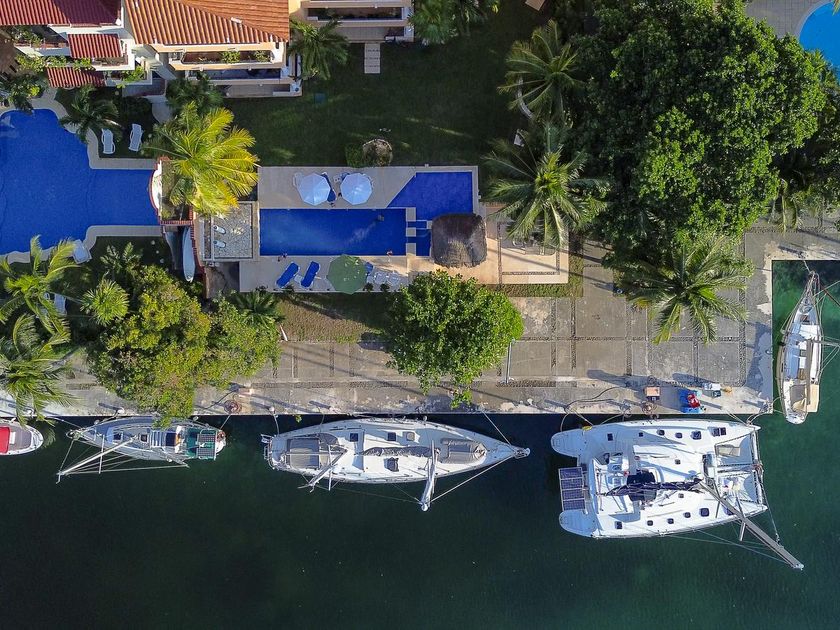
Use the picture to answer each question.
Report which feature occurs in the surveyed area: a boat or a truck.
boat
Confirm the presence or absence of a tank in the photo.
No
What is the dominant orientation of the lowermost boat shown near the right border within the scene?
from left to right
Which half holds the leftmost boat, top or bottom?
bottom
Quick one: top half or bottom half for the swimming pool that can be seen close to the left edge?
top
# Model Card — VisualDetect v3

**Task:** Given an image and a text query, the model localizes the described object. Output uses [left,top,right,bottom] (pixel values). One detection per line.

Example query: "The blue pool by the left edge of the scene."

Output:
[0,99,159,263]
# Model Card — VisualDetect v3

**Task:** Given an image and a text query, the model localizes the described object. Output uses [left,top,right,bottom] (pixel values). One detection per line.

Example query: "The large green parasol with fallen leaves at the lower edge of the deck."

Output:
[327,254,368,294]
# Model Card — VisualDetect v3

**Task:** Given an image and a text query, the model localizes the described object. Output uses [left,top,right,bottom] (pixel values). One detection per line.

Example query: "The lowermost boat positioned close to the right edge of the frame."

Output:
[550,415,812,573]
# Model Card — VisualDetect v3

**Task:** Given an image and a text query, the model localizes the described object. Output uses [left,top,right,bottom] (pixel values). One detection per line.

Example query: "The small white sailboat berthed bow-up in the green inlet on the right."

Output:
[774,272,840,426]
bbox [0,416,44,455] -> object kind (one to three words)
boat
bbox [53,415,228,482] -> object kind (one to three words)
boat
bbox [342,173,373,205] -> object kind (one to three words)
umbrella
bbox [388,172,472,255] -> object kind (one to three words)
swimming pool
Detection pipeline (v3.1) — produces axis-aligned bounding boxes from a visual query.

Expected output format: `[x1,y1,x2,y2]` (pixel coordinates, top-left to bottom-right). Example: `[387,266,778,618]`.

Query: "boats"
[53,415,228,482]
[262,415,531,513]
[774,272,840,426]
[0,416,44,455]
[550,415,812,573]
